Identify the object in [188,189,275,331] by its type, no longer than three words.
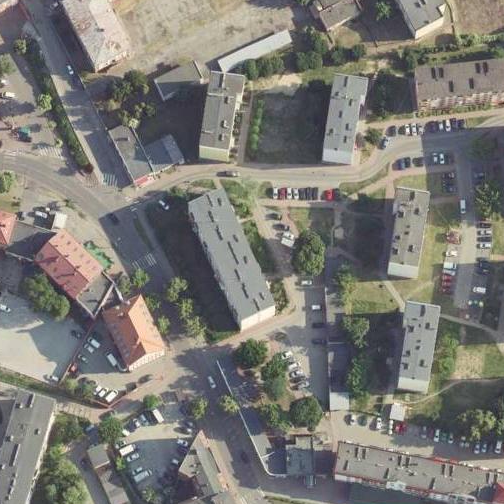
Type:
building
